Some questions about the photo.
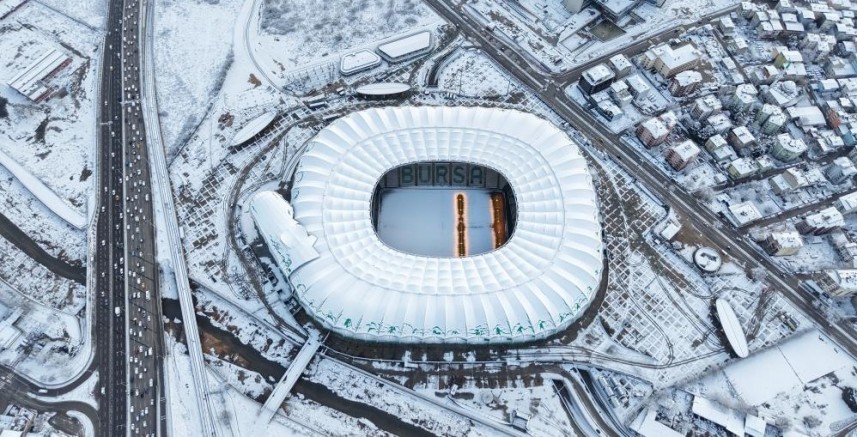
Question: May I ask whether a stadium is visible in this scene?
Yes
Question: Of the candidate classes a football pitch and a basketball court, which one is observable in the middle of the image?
football pitch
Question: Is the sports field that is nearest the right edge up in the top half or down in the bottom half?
bottom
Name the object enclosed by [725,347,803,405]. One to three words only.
sports field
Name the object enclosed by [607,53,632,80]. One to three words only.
building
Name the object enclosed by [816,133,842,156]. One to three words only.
house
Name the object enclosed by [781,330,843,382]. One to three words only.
sports field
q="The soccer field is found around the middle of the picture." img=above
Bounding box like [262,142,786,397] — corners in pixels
[380,189,511,257]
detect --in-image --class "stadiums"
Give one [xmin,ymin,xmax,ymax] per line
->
[255,111,603,345]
